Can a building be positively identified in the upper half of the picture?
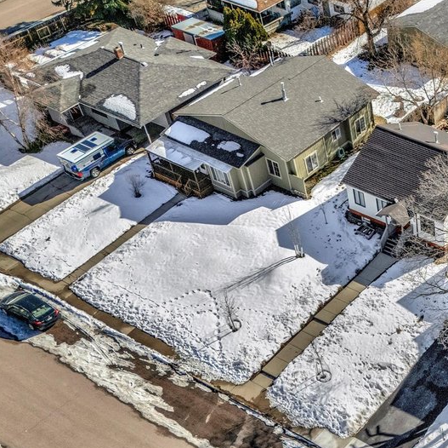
Yes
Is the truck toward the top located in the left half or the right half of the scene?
left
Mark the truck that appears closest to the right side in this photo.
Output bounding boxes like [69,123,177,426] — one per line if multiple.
[53,133,135,181]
